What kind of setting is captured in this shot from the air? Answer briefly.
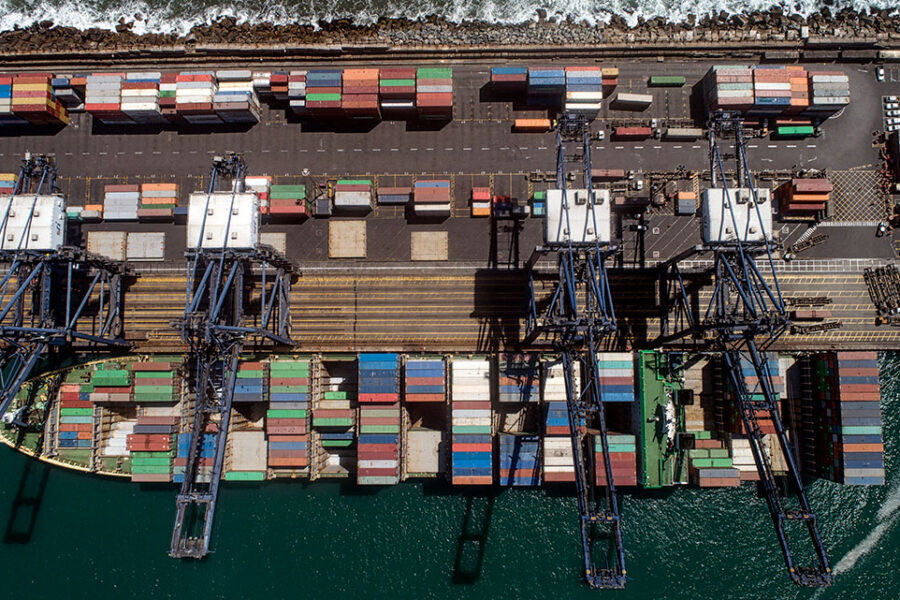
port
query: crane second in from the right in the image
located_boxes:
[515,110,628,591]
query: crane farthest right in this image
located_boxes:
[640,108,836,591]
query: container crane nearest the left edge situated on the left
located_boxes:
[0,150,152,403]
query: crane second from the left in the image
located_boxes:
[165,148,312,554]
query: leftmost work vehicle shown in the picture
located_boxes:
[320,182,336,217]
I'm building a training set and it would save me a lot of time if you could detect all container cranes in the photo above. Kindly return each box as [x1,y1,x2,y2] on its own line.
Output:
[0,150,152,403]
[165,148,312,554]
[640,108,836,591]
[515,110,628,591]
